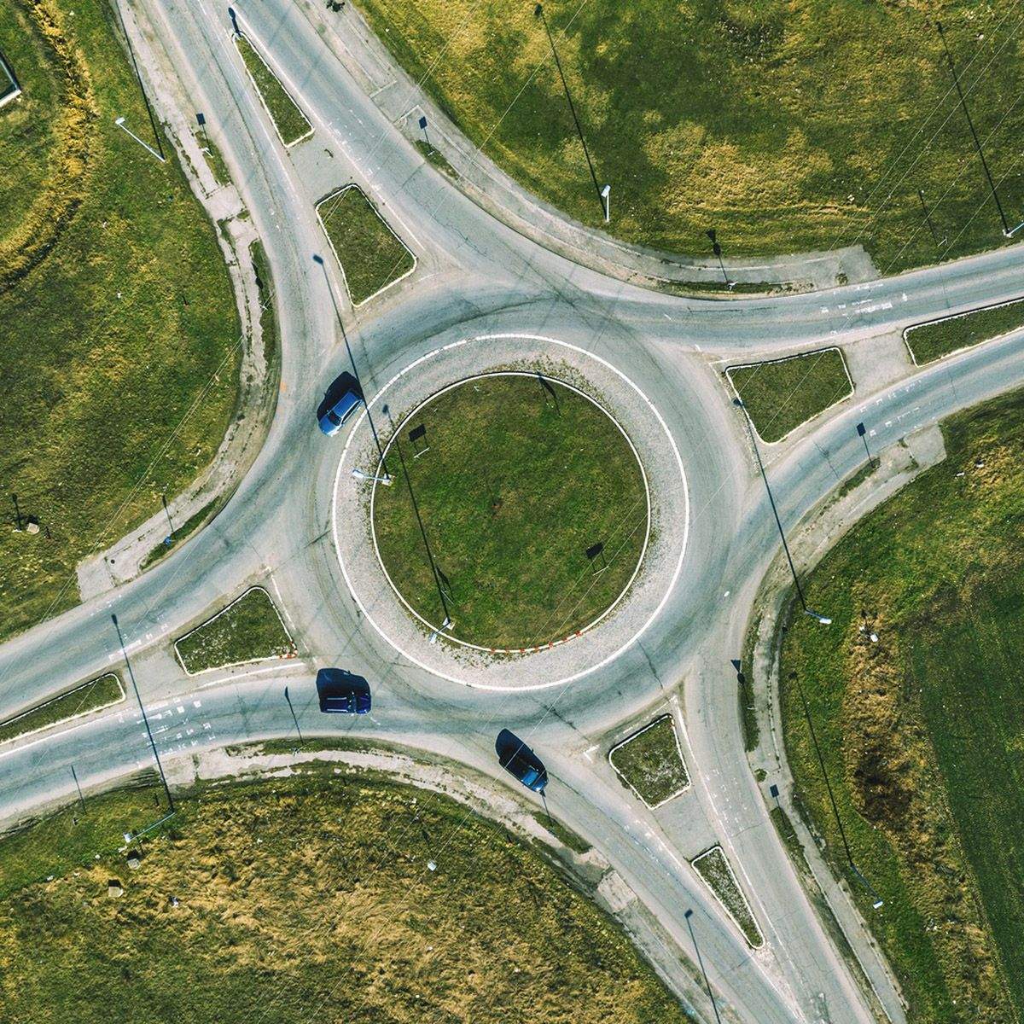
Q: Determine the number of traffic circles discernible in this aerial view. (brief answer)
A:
1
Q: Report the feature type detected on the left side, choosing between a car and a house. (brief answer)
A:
car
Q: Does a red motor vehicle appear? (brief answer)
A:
No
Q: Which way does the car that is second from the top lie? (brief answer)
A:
from side to side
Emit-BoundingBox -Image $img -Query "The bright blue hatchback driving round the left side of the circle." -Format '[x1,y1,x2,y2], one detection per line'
[320,385,368,433]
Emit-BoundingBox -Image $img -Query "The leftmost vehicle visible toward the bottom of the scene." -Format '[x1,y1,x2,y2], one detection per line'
[318,690,372,717]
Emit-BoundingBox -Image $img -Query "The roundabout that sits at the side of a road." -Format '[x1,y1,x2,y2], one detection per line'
[251,252,770,772]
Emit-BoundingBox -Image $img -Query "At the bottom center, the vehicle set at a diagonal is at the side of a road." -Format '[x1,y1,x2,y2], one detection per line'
[498,747,547,790]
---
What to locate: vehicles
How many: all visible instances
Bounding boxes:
[320,385,368,433]
[318,690,372,717]
[498,747,547,790]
